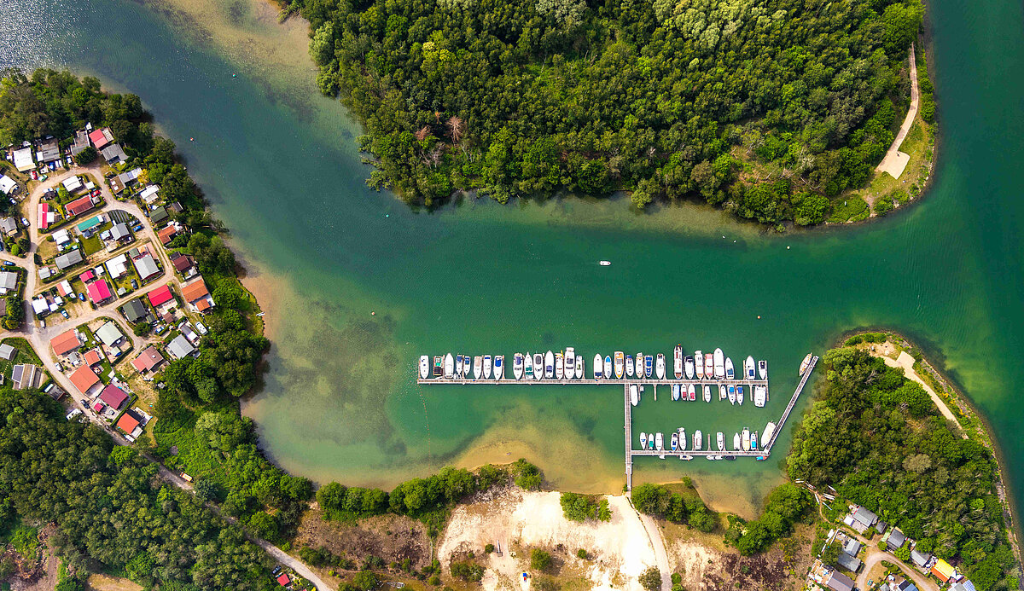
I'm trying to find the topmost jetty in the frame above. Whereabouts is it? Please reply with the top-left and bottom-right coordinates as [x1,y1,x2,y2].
[417,356,771,400]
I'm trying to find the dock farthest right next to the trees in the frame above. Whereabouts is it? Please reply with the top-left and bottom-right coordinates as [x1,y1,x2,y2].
[763,355,819,452]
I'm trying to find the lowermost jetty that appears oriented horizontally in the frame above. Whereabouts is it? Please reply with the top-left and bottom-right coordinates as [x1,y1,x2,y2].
[631,433,771,456]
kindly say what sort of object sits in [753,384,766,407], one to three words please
boat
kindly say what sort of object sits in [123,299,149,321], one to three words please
house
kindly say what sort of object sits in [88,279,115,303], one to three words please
building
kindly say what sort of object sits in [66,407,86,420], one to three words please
vehicle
